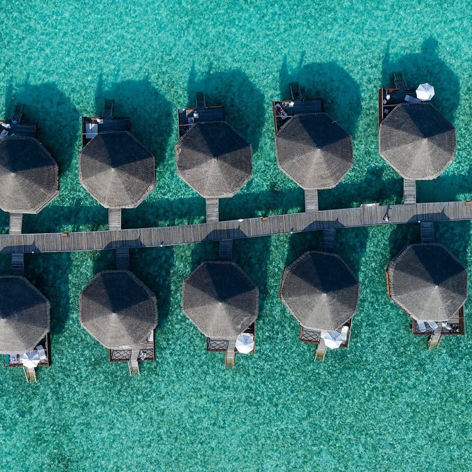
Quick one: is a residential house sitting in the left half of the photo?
Yes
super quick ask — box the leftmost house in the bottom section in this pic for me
[0,273,53,382]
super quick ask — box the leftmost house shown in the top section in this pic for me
[0,101,67,215]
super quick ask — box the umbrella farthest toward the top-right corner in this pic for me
[416,82,434,101]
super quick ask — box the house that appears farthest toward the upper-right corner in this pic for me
[374,70,458,182]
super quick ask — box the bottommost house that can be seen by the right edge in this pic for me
[380,241,468,351]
